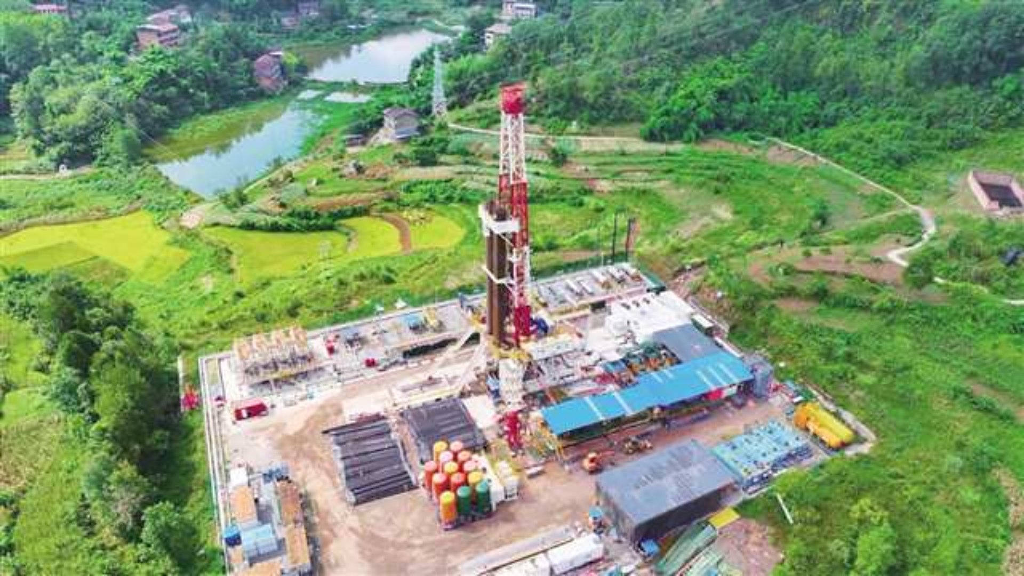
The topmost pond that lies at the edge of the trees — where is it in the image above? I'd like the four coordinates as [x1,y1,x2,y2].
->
[305,29,438,82]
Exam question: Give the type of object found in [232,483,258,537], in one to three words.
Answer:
building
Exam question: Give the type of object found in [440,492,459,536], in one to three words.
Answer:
silo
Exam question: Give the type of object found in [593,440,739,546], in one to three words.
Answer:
shed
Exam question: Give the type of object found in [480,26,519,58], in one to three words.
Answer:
house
